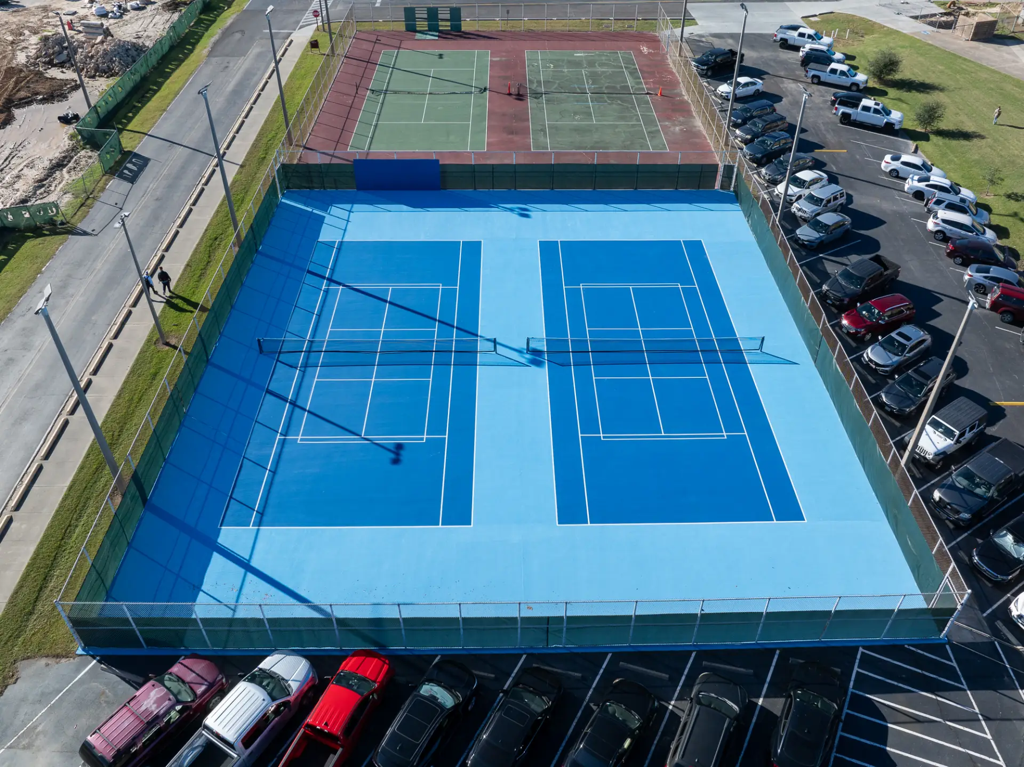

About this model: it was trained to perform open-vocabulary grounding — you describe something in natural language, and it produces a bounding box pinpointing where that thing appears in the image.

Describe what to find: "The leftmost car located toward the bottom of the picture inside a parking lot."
[82,649,235,767]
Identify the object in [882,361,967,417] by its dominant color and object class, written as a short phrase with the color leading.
black car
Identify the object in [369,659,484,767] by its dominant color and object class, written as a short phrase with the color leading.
black car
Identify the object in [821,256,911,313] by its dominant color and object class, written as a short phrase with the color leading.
black truck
